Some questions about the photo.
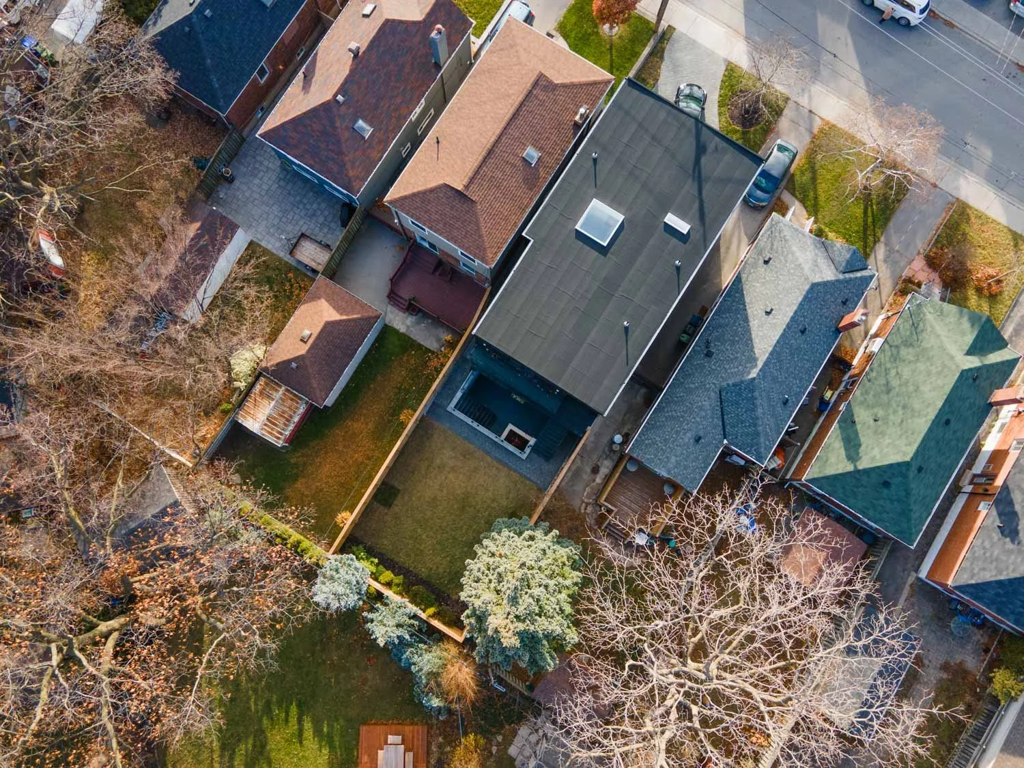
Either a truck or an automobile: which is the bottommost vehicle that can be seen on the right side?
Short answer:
automobile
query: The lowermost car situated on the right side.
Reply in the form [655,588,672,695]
[740,136,803,215]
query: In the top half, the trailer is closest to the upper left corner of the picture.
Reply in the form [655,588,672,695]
[281,234,333,273]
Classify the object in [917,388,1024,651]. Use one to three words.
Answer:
house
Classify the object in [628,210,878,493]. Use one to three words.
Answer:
house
